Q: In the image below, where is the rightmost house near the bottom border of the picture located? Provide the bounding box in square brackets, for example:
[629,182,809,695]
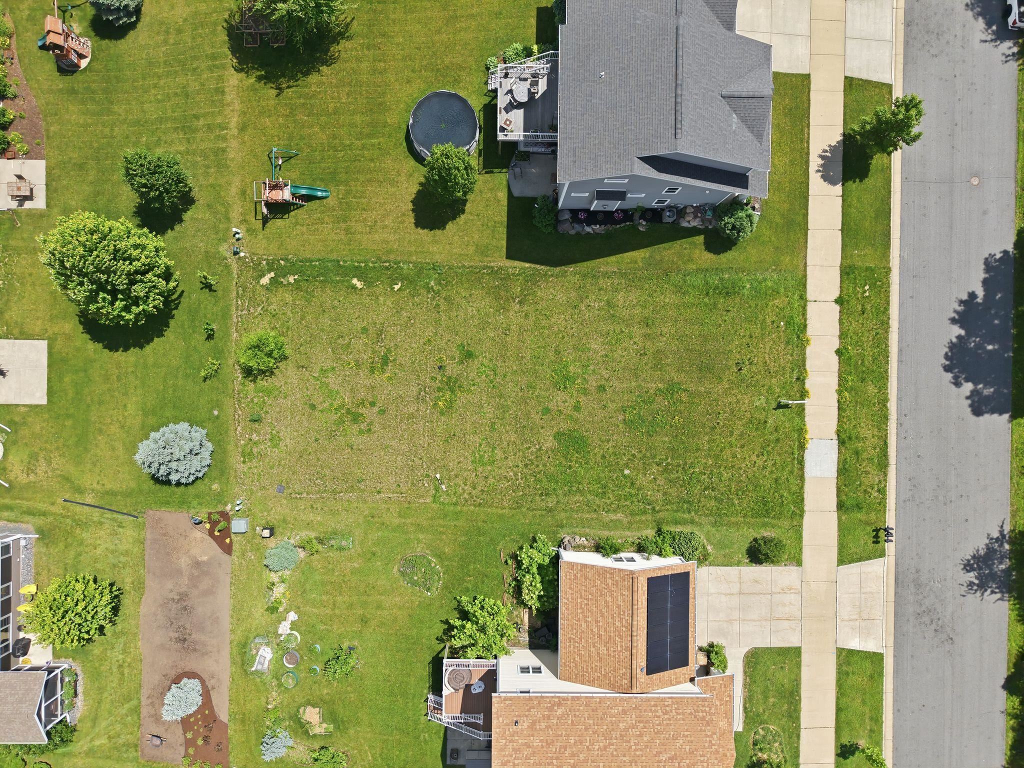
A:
[491,544,741,768]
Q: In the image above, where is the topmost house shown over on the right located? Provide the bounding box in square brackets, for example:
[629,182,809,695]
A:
[556,0,778,213]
